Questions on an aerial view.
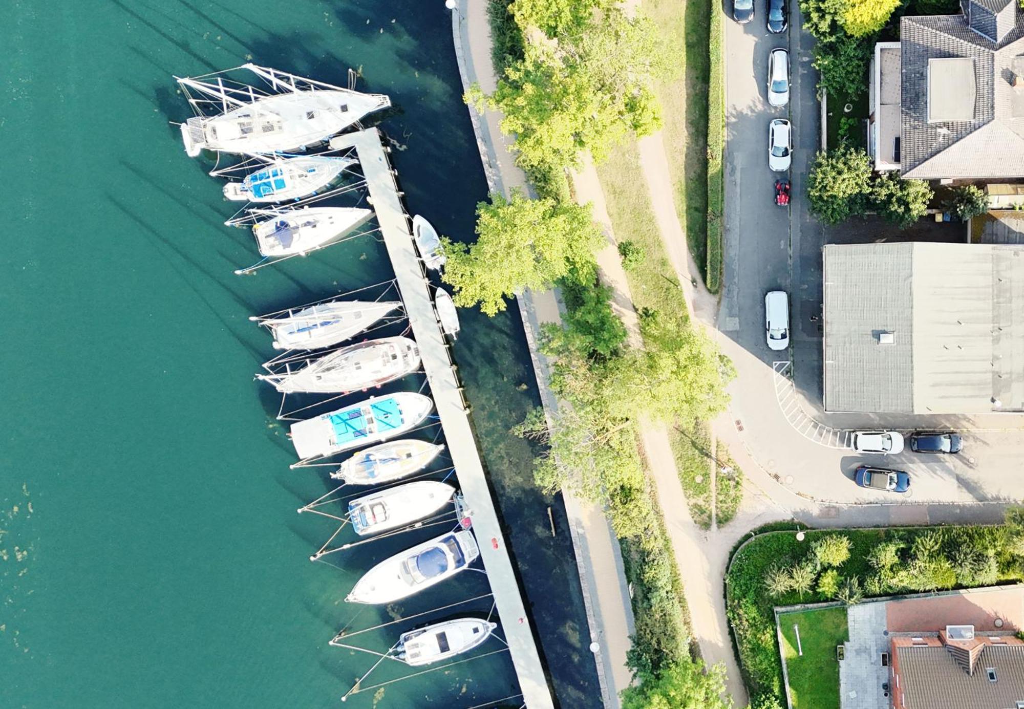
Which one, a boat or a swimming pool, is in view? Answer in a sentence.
Visible in the photo is a boat.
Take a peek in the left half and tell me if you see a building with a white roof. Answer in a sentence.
No, there's no building with a white roof to be seen in the left half.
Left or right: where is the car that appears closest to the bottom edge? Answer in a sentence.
The car that appears closest to the bottom edge is on the right side of the image.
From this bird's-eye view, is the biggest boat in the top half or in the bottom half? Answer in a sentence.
The top half of the photo is where the biggest boat is.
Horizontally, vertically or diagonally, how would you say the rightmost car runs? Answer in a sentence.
The rightmost car has been laid out horizontally relative to the frame.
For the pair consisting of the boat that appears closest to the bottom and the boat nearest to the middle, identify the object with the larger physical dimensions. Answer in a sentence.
The boat that appears closest to the bottom takes up more space than the boat nearest to the middle.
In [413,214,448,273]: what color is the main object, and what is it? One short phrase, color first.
white boat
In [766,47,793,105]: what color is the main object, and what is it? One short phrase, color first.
white car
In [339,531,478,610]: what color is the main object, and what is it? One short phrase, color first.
white boat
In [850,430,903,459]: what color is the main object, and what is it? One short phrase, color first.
white car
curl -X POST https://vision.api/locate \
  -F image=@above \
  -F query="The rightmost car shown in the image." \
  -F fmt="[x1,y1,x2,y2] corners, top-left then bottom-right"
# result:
[910,432,963,458]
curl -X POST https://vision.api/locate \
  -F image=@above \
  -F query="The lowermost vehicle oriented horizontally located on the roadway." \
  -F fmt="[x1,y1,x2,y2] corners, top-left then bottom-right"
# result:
[854,466,910,495]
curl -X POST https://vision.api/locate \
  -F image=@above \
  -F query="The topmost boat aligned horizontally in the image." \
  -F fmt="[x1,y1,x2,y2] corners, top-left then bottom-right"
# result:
[171,63,391,155]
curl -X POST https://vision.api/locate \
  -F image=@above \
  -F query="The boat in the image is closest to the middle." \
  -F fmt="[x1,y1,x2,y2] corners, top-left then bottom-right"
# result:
[435,288,461,340]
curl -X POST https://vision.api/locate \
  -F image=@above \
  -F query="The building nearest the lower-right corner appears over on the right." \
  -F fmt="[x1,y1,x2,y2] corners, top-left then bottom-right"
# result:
[891,625,1024,709]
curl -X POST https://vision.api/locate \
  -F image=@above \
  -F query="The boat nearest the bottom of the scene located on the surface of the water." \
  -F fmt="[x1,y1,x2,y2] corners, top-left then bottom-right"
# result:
[391,617,497,666]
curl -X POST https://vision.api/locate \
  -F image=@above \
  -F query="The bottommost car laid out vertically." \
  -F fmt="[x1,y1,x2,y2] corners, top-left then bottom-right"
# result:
[764,292,792,350]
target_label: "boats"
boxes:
[259,299,399,352]
[287,395,433,460]
[221,182,247,199]
[413,214,448,273]
[330,440,443,484]
[258,338,425,395]
[451,491,469,531]
[171,63,391,155]
[224,149,356,205]
[178,123,199,155]
[391,617,497,666]
[247,204,373,257]
[435,288,461,340]
[345,482,453,535]
[339,531,478,610]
